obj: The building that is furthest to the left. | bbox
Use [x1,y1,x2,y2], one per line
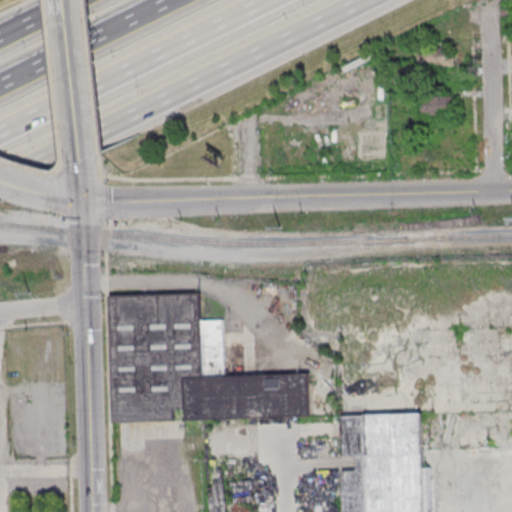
[108,294,204,422]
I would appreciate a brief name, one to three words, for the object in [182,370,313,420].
building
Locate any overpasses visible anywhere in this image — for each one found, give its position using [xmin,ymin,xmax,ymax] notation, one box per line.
[40,0,102,164]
